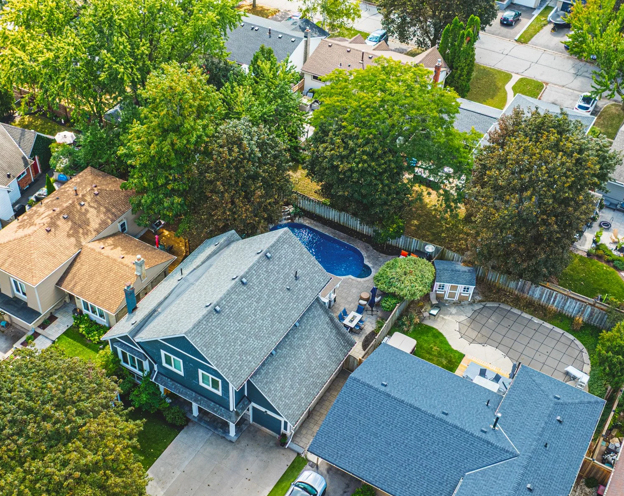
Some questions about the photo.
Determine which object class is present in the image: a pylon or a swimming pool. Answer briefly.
swimming pool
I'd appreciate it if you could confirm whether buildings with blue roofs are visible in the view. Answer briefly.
Yes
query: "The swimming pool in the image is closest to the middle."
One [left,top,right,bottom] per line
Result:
[268,219,372,280]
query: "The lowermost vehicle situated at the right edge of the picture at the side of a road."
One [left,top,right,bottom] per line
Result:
[571,94,600,115]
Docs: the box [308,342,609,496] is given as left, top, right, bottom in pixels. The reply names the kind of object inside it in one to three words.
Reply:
house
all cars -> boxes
[571,94,600,115]
[289,469,330,496]
[562,35,587,54]
[497,10,523,29]
[366,24,392,47]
